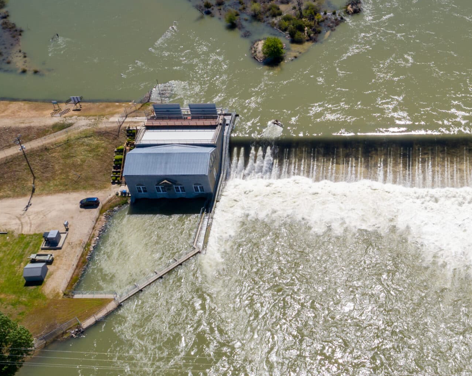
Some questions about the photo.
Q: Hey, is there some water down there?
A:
Yes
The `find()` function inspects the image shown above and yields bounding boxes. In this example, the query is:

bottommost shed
[17,264,53,286]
